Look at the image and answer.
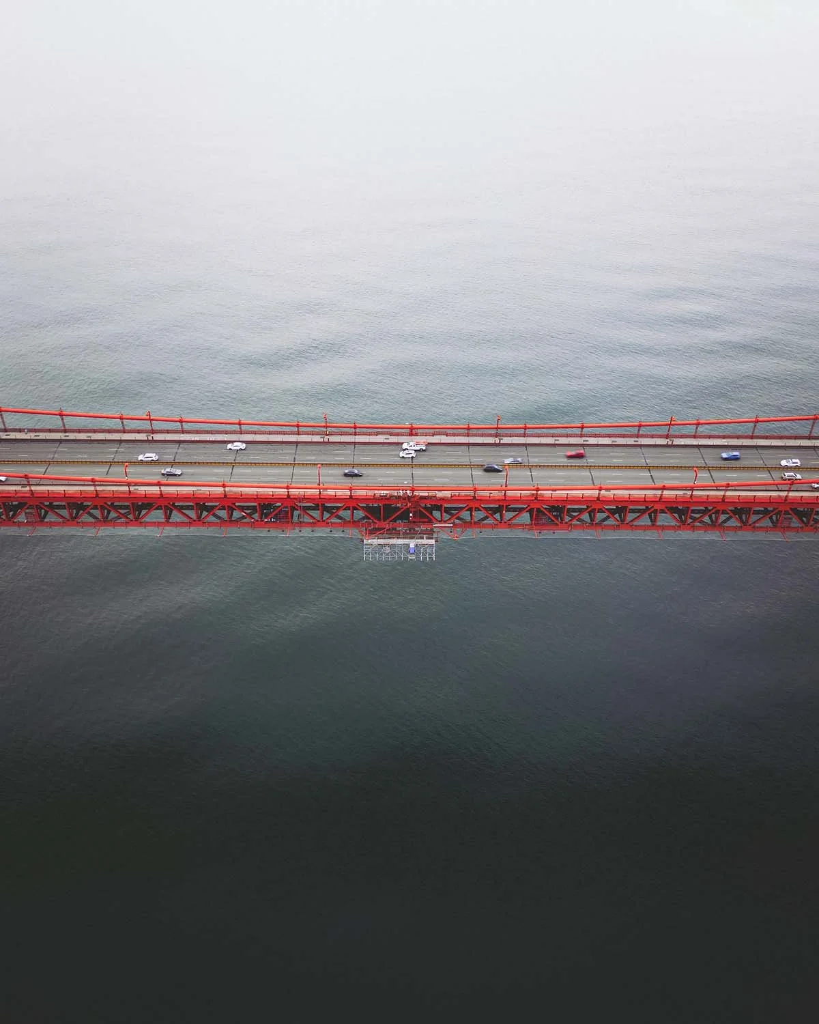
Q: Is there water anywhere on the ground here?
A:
Yes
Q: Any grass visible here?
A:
No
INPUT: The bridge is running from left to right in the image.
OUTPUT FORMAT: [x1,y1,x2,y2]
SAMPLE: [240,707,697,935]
[0,404,819,540]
